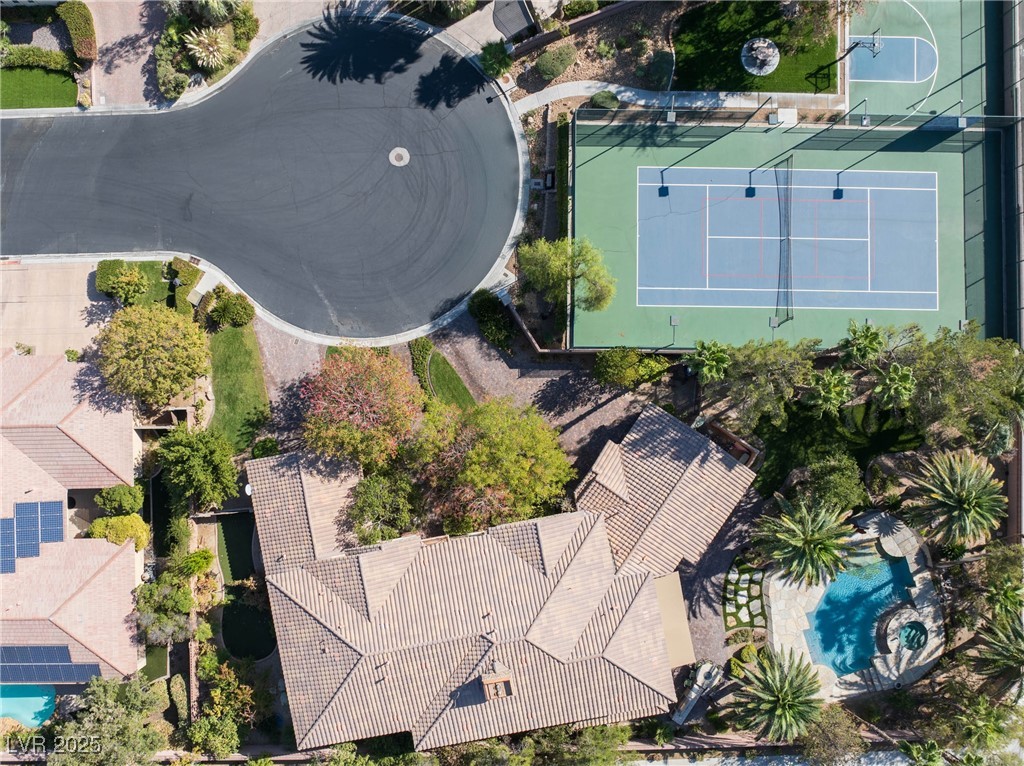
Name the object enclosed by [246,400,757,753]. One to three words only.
house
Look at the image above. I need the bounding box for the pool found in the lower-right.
[766,507,949,701]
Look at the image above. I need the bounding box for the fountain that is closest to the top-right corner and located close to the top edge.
[741,37,780,76]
